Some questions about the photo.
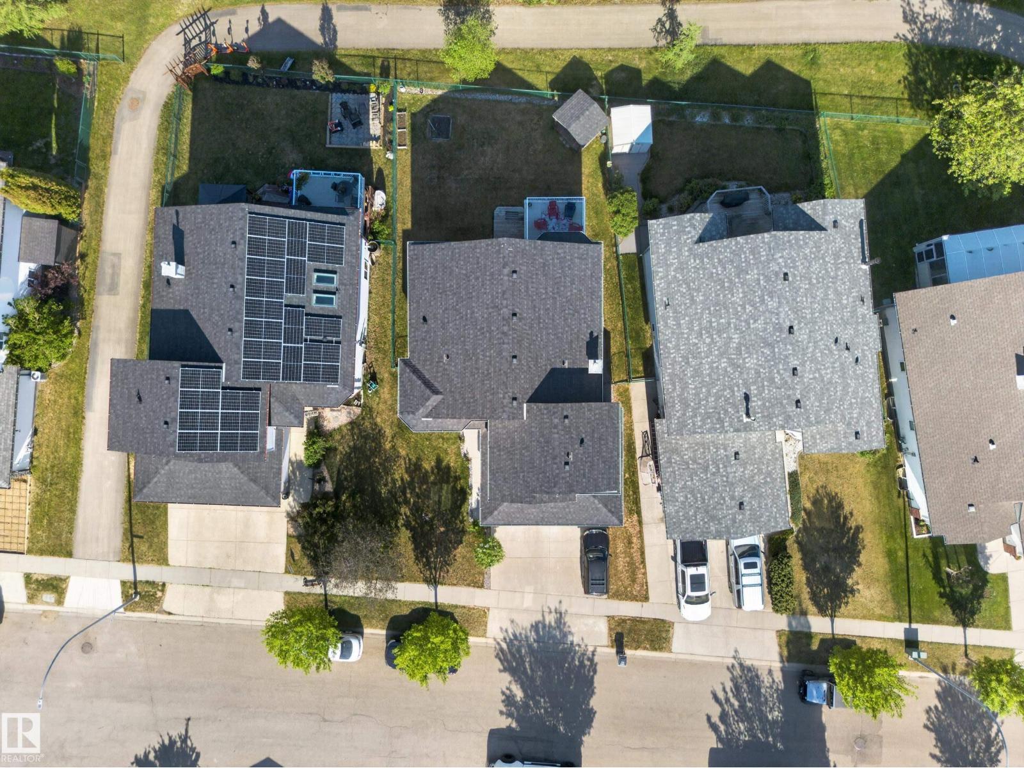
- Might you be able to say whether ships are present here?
No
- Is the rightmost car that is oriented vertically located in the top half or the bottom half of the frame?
bottom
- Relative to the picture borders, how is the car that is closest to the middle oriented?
vertically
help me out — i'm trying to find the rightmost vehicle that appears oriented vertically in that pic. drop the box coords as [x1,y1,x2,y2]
[730,535,766,612]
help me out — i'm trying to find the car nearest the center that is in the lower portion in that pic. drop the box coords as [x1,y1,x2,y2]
[580,528,611,595]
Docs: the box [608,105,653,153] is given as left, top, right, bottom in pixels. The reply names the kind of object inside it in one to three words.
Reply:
shed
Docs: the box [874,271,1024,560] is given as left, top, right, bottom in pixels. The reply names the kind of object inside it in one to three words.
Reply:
house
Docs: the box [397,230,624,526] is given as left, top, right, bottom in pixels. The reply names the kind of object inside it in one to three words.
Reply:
house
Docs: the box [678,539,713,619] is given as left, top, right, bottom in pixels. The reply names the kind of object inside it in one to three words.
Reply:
truck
